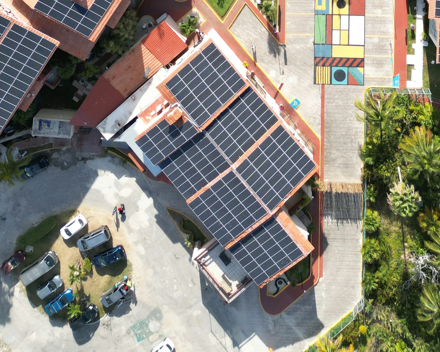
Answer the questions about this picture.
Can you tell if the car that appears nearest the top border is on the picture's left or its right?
left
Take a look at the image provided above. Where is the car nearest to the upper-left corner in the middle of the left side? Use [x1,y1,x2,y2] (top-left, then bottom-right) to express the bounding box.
[20,154,52,181]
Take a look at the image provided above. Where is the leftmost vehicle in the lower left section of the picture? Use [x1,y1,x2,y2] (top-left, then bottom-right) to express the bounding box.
[0,249,28,277]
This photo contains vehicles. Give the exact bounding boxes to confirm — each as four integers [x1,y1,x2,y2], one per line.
[43,285,76,319]
[18,248,60,290]
[0,249,28,277]
[101,277,136,306]
[20,154,52,181]
[37,271,66,299]
[94,243,127,267]
[69,300,100,327]
[76,223,113,251]
[60,211,88,238]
